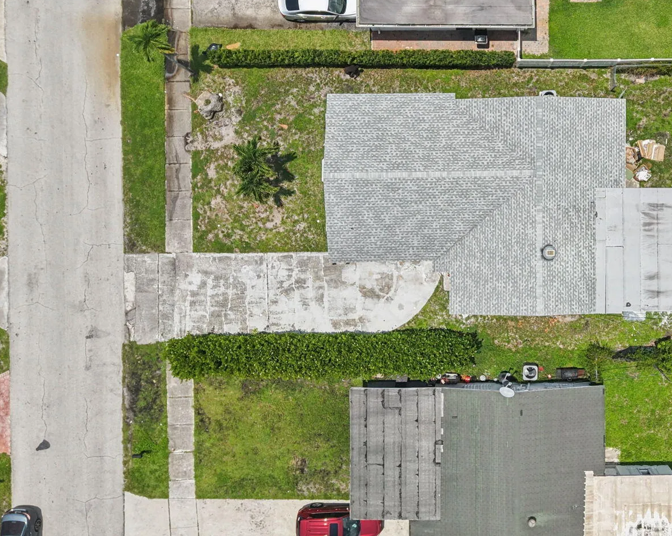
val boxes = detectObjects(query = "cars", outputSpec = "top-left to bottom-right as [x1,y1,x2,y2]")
[279,0,354,27]
[0,510,43,536]
[297,504,383,536]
